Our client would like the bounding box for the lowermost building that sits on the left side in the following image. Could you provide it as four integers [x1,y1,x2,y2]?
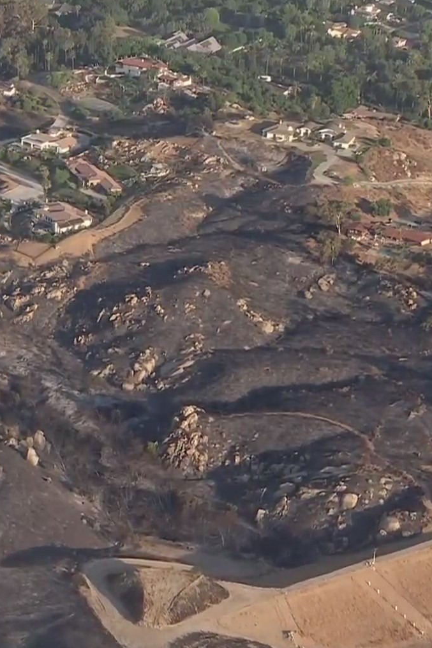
[37,199,93,236]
